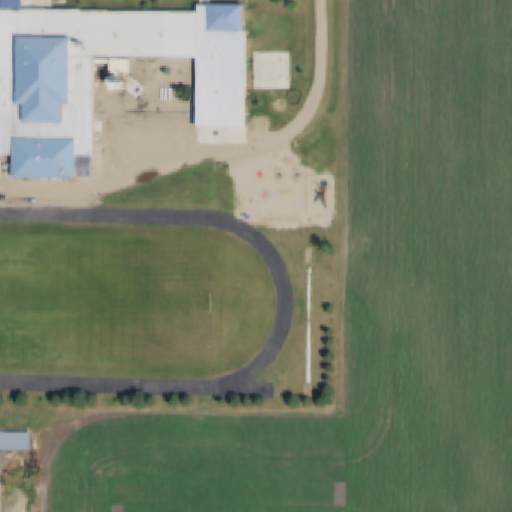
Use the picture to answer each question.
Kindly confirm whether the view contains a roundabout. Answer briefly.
No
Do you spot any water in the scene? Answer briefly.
No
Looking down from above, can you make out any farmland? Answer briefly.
Yes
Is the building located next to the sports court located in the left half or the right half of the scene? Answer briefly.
left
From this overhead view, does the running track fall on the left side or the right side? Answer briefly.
left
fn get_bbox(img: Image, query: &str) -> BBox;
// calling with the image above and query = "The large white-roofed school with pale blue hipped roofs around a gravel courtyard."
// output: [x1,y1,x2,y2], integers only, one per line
[0,0,246,178]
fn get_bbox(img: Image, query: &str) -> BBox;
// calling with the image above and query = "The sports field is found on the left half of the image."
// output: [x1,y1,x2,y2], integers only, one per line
[0,218,281,387]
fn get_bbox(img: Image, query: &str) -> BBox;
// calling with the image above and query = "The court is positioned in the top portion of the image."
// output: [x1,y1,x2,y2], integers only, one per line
[254,53,289,88]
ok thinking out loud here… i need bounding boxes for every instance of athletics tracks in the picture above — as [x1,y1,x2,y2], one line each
[0,208,294,398]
